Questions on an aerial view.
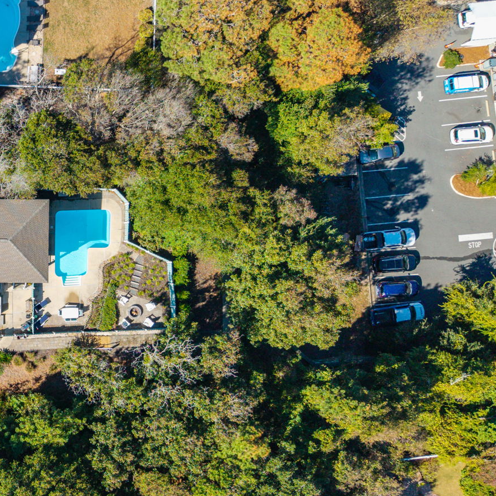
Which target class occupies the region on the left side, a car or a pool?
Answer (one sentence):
You can see a pool on the left side.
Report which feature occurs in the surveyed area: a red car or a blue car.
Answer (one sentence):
Looking from above, you can make out a blue car.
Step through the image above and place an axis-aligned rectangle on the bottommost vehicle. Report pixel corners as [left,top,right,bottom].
[371,304,429,326]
